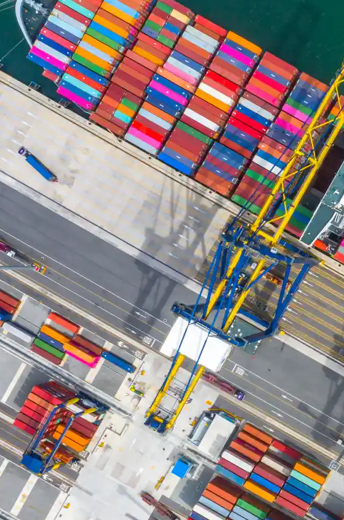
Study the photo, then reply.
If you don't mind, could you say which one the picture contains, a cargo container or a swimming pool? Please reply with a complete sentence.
It is a cargo container that can be seen here.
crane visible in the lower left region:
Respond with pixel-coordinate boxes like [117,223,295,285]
[22,391,109,481]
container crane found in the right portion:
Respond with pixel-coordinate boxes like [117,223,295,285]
[141,57,344,436]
